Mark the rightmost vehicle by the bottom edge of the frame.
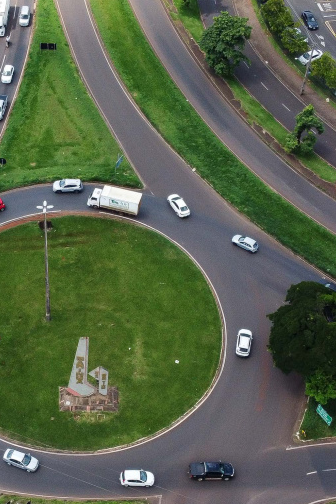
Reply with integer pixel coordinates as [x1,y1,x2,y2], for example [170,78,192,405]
[190,461,235,482]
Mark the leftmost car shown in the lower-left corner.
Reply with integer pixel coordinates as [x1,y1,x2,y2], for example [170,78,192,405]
[2,449,40,472]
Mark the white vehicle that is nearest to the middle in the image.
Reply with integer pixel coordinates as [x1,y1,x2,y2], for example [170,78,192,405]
[166,197,191,218]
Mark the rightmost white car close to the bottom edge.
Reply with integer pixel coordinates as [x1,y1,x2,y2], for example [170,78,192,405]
[120,468,155,488]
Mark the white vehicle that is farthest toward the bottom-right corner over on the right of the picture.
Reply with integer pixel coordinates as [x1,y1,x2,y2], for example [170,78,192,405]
[237,329,253,358]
